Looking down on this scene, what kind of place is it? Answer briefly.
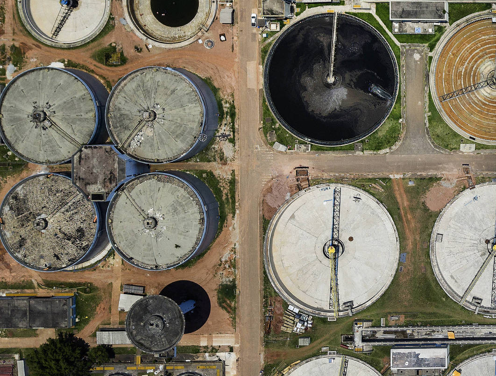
industrial area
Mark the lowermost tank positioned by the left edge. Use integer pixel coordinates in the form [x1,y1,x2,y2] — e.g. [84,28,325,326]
[0,169,111,273]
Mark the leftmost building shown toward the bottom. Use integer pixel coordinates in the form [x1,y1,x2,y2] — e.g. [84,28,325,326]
[0,297,77,328]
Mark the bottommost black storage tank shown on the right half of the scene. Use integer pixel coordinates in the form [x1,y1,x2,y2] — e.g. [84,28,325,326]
[265,10,400,147]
